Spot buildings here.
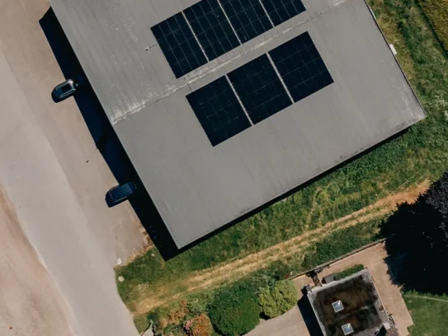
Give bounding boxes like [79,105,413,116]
[307,265,398,336]
[51,0,425,250]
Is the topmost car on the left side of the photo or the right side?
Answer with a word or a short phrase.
left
